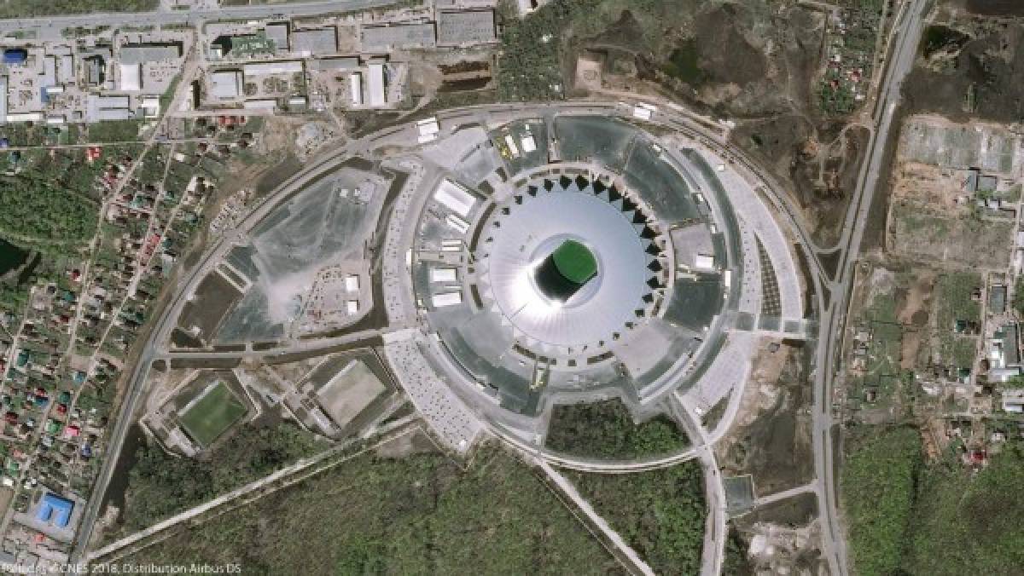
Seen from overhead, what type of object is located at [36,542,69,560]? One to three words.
shed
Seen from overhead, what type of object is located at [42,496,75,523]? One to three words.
building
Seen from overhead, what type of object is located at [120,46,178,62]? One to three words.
building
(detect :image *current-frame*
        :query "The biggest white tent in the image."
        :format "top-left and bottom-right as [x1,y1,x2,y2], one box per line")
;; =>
[435,178,475,214]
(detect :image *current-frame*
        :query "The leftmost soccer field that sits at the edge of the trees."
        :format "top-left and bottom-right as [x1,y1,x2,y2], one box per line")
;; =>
[177,377,244,443]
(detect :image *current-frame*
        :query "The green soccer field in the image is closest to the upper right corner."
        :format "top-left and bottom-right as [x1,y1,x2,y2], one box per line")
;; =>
[537,238,598,299]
